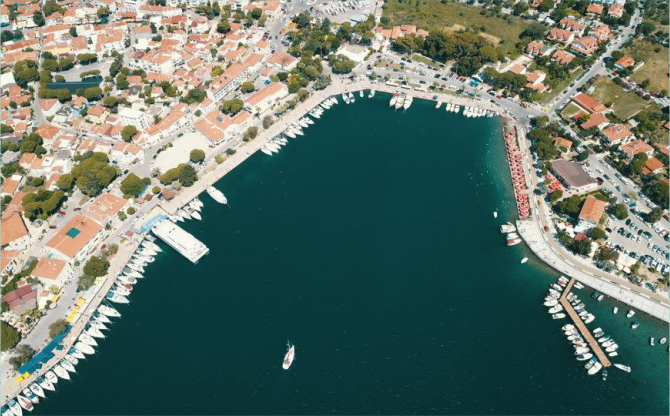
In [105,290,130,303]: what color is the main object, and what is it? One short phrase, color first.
white boat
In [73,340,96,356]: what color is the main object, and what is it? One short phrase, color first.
white boat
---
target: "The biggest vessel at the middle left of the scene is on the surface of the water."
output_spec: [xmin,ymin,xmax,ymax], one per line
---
[154,219,210,266]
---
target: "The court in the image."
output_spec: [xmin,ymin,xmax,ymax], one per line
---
[49,76,106,91]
